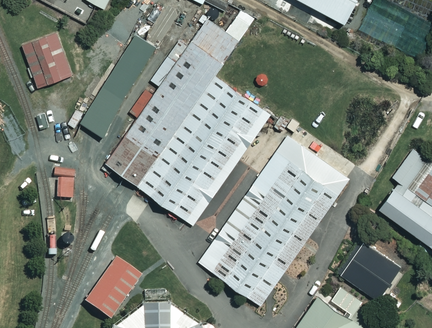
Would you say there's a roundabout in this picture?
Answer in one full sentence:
No, there is no roundabout in the image.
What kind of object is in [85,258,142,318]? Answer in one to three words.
building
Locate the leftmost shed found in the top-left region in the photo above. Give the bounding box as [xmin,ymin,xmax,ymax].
[22,32,72,88]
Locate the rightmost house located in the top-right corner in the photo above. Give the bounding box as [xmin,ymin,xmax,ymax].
[358,0,432,56]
